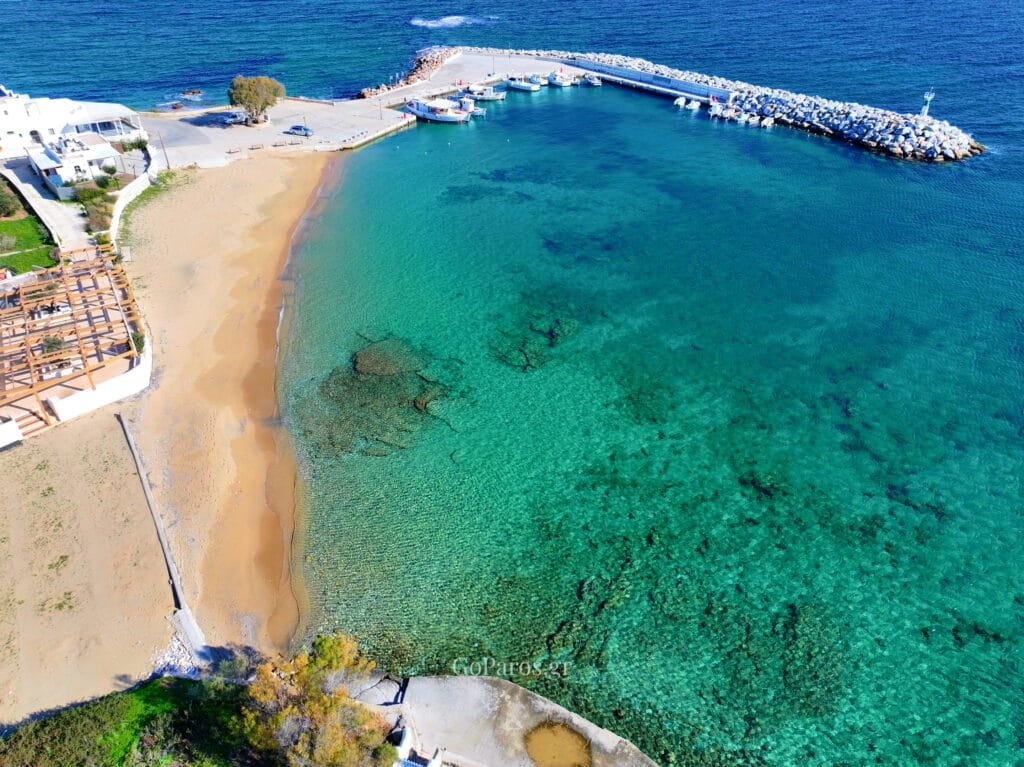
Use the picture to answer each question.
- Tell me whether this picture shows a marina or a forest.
marina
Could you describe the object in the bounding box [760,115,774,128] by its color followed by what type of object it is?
white boat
